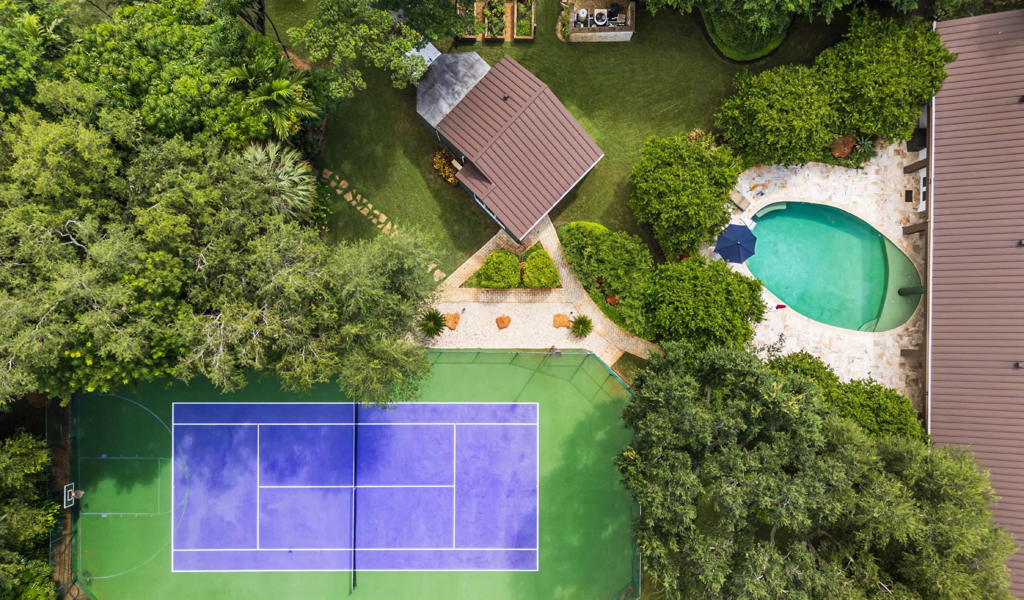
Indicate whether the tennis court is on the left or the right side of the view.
left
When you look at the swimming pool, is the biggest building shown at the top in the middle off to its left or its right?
to the left of it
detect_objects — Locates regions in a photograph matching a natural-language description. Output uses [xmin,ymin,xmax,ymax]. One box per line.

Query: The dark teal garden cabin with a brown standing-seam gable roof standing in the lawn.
[417,51,604,244]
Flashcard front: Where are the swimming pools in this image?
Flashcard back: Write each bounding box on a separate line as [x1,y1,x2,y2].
[746,195,925,338]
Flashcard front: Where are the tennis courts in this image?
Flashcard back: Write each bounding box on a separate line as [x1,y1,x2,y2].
[71,348,634,600]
